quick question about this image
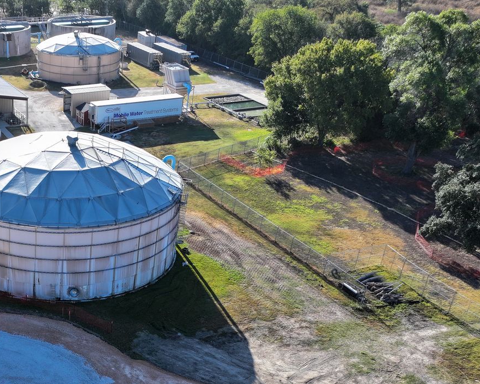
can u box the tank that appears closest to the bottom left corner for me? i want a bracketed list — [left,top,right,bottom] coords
[0,130,196,304]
